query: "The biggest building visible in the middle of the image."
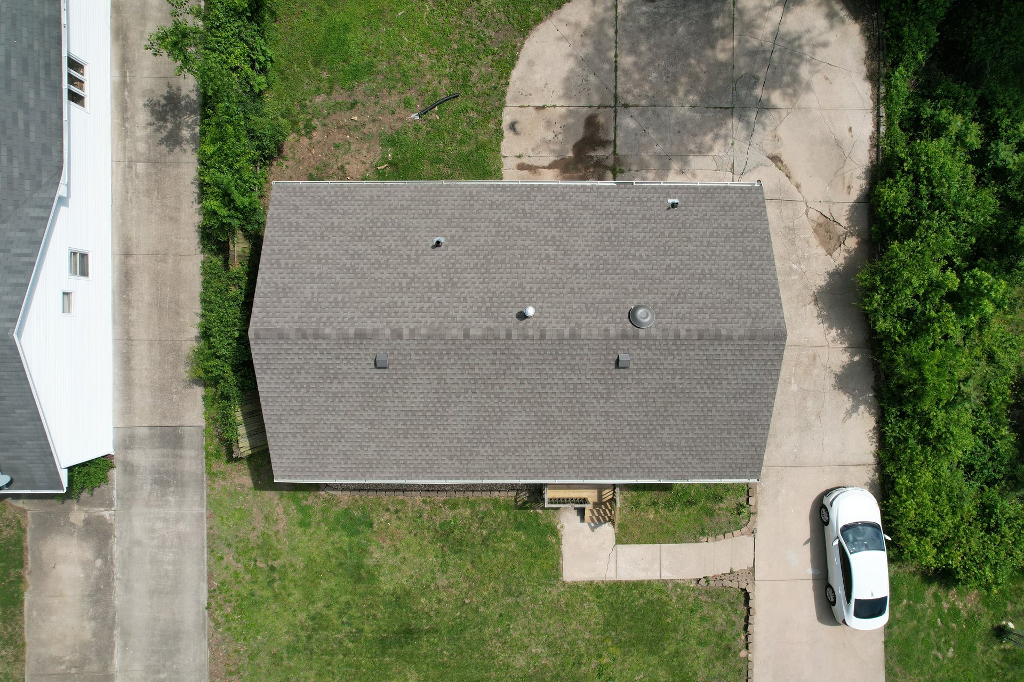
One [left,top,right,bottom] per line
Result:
[247,178,788,484]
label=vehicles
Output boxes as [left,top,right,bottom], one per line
[823,487,897,634]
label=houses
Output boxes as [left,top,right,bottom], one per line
[247,178,788,484]
[0,0,114,497]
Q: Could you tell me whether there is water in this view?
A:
No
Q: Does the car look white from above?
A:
Yes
